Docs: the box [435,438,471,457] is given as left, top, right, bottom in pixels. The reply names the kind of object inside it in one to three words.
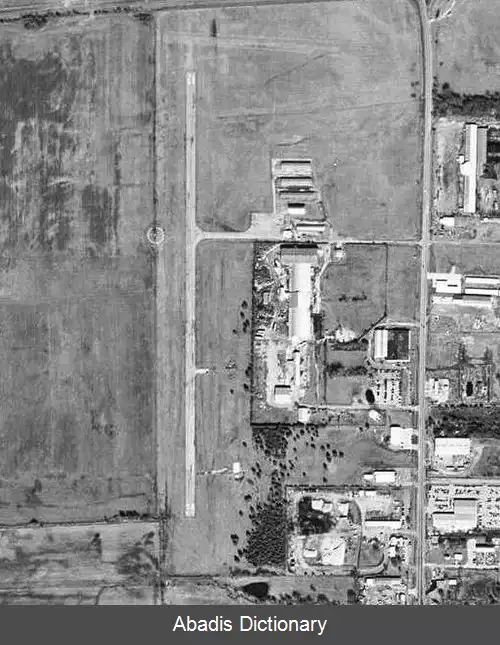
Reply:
building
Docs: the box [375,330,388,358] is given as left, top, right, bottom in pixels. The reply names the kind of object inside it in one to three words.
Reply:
building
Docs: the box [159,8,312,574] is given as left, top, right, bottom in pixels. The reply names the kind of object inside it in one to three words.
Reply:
airport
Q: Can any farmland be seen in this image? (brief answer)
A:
Yes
